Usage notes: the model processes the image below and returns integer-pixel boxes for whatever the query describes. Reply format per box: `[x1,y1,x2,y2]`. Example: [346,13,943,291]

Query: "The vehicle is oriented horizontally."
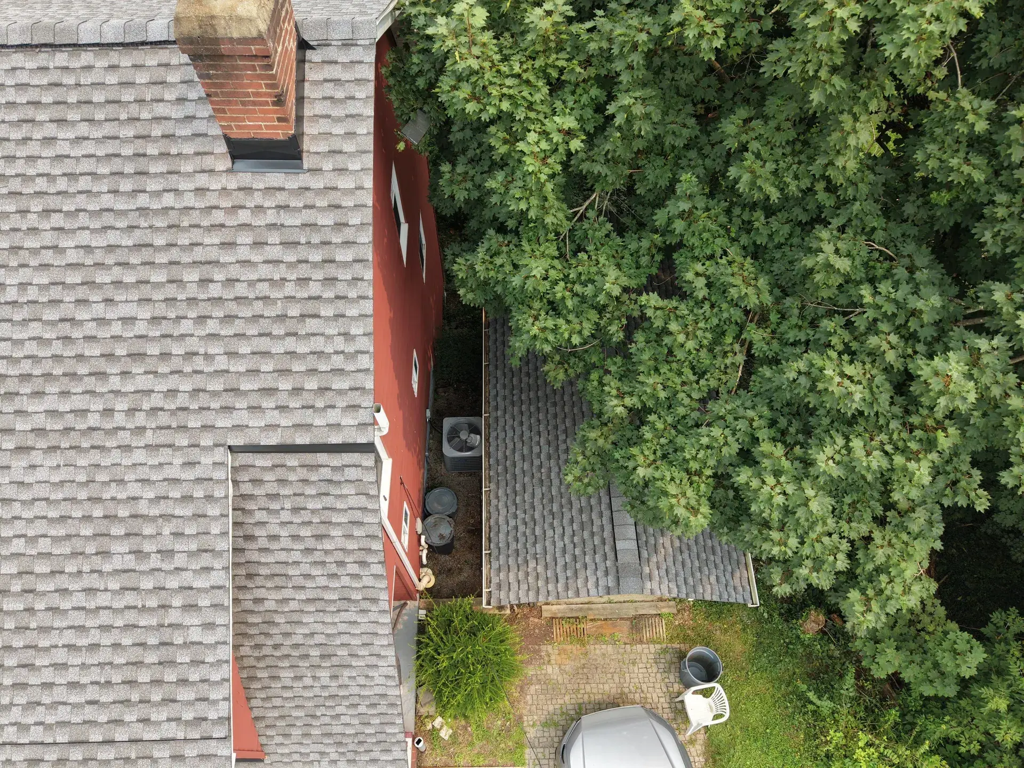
[554,705,685,768]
